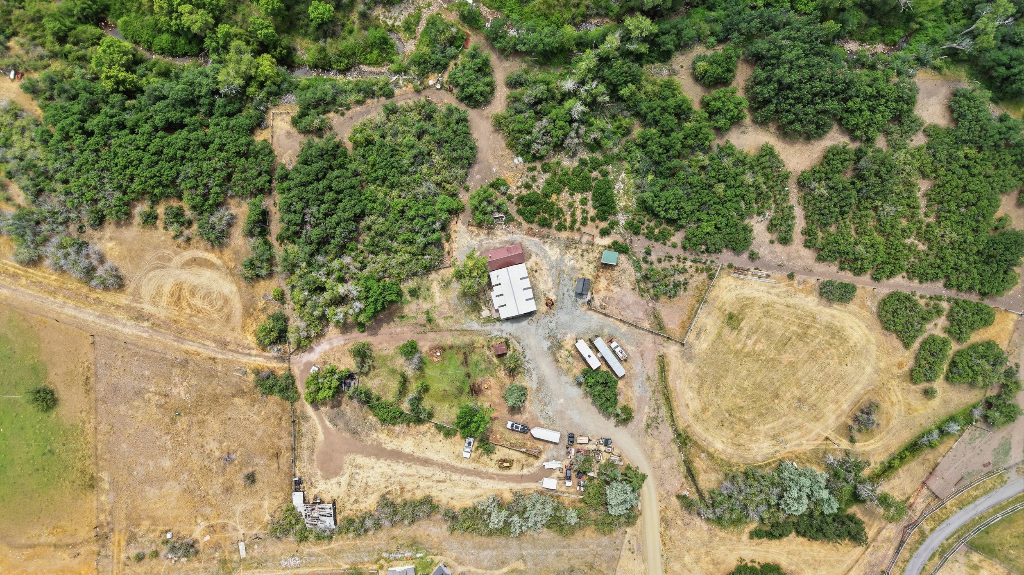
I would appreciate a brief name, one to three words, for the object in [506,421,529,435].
vehicle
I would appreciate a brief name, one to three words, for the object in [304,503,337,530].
barn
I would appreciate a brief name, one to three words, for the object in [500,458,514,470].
vehicle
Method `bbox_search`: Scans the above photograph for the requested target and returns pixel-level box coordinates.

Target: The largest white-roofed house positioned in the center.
[490,263,537,319]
